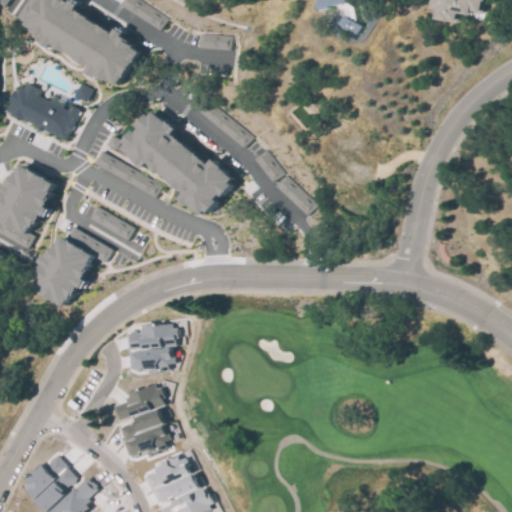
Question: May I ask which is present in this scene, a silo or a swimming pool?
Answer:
swimming pool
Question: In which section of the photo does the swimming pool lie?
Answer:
top left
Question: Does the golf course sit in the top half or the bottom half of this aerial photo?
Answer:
bottom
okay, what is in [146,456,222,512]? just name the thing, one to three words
house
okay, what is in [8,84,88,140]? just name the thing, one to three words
building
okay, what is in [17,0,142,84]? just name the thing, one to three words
building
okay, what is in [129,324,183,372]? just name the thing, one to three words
house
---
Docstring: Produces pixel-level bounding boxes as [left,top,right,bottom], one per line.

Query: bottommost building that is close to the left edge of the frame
[26,458,102,512]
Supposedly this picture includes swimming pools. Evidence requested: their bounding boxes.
[19,58,82,105]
